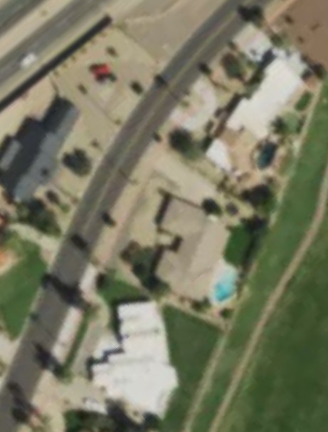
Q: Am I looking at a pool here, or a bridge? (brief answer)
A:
pool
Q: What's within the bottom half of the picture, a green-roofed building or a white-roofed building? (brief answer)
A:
white-roofed building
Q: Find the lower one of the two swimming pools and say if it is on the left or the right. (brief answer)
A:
right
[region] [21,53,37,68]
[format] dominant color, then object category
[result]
white car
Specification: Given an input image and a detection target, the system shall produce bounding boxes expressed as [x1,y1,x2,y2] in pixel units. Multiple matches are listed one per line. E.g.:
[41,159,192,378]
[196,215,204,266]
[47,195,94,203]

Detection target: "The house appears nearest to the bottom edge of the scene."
[91,301,178,419]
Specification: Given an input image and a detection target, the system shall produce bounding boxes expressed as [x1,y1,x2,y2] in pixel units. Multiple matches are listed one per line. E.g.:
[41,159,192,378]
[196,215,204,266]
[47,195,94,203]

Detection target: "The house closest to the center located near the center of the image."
[153,194,232,302]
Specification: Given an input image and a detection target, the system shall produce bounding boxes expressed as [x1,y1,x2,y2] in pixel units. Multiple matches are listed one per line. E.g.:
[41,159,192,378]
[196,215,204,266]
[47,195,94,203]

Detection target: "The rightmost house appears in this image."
[207,47,307,170]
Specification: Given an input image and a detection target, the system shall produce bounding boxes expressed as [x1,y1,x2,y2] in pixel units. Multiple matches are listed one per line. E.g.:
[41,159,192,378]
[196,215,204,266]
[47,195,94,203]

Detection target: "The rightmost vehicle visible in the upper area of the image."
[93,63,110,76]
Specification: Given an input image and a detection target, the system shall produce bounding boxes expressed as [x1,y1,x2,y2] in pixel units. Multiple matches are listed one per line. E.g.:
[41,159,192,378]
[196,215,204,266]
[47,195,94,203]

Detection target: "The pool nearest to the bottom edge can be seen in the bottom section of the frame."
[211,262,237,302]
